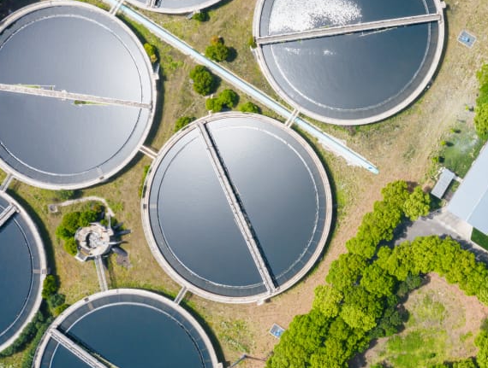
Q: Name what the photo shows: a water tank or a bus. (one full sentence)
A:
Visible in the photo is a water tank.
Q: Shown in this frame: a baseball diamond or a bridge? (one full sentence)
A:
This aerial view contains a bridge.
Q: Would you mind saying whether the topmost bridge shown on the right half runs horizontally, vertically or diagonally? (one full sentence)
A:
The topmost bridge shown on the right half is laid out horizontally.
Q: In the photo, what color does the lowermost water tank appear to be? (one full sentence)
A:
The lowermost water tank looks blue in the image.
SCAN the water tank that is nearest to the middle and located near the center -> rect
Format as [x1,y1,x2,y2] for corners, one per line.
[142,110,335,306]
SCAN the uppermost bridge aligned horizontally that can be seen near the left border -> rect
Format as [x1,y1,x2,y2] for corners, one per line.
[0,82,158,112]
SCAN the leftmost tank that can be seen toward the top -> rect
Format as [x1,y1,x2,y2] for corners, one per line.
[0,0,167,190]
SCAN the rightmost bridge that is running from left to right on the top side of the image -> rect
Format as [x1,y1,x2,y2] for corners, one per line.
[253,11,444,47]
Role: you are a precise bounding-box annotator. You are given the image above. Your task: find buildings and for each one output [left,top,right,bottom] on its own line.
[432,168,455,199]
[447,141,488,235]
